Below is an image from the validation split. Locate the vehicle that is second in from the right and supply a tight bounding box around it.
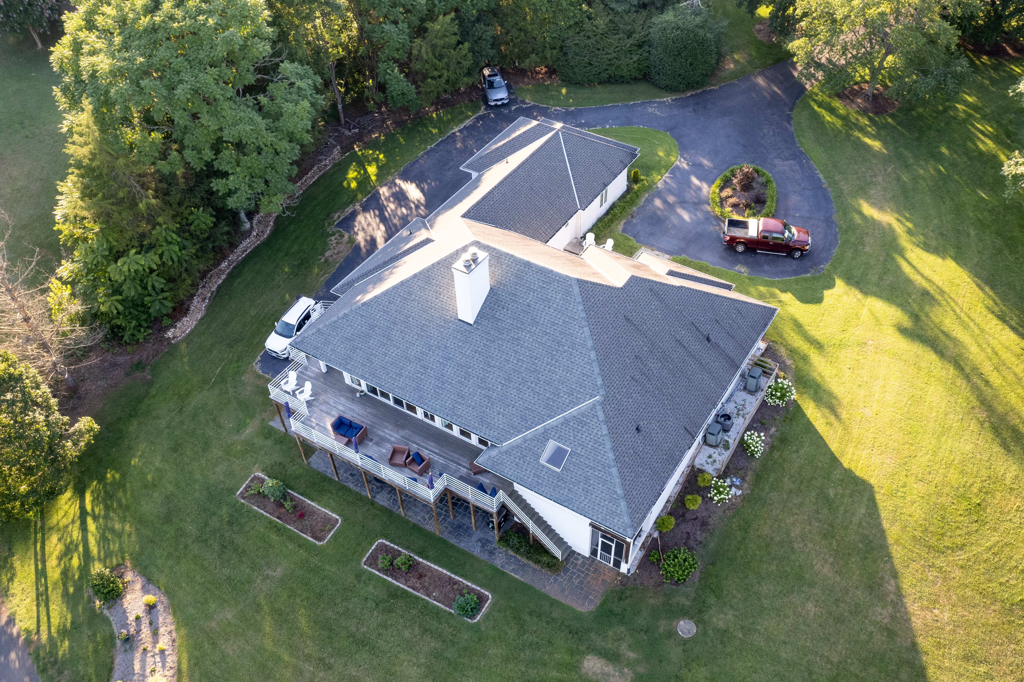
[483,61,511,103]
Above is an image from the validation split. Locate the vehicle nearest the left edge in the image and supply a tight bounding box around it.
[263,296,321,359]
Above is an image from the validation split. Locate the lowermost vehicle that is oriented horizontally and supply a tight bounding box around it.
[720,216,817,260]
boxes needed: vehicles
[483,61,511,103]
[720,216,817,260]
[263,296,321,359]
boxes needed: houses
[285,116,781,579]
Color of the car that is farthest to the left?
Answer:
white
